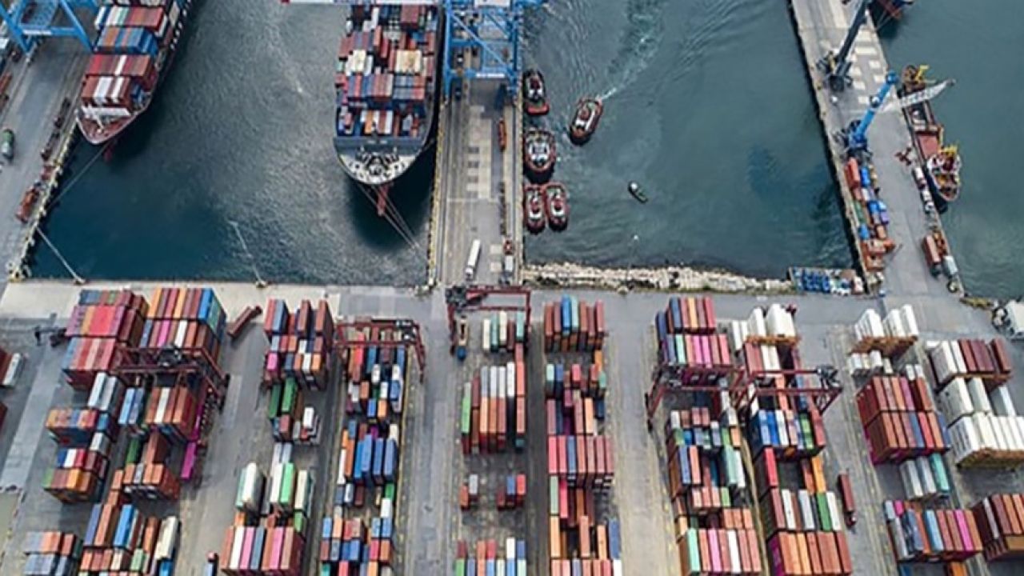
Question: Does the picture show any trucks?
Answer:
Yes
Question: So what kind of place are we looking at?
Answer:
port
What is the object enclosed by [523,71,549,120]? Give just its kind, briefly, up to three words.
boat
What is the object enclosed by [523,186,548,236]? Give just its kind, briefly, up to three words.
boat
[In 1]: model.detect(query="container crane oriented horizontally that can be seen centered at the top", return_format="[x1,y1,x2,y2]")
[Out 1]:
[270,0,544,104]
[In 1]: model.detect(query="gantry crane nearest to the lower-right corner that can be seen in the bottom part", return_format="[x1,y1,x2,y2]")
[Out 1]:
[734,363,843,428]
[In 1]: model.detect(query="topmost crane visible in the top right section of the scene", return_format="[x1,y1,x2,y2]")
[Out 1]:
[818,0,877,95]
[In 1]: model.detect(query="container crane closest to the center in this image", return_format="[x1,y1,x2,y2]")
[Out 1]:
[451,285,535,350]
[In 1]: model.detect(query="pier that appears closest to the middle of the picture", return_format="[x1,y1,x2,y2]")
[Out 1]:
[426,4,526,287]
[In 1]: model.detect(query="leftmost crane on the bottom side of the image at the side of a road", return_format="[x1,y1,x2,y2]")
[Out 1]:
[109,344,230,409]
